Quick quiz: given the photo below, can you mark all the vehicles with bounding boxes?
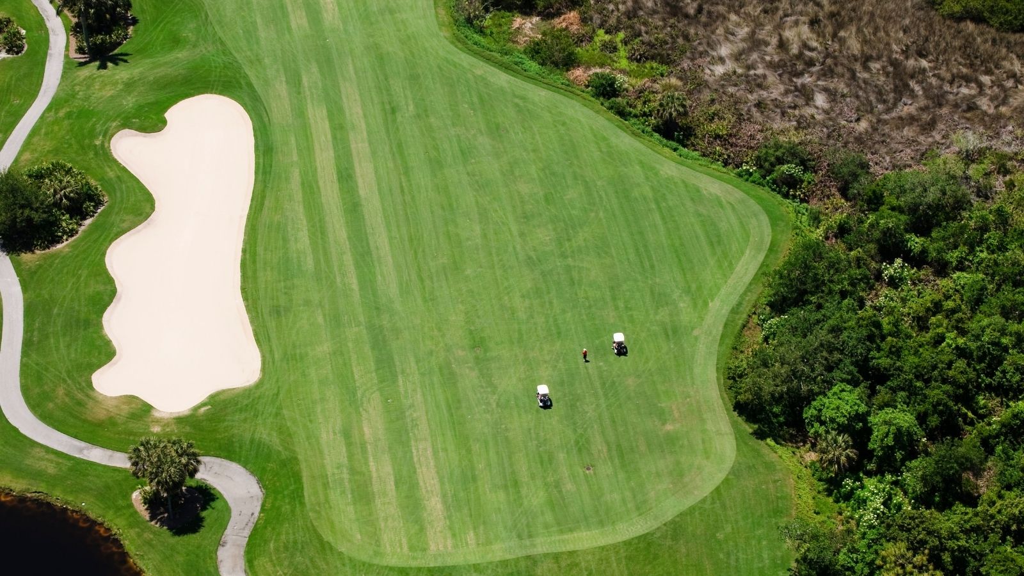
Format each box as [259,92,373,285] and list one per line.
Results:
[536,385,552,410]
[613,333,627,355]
